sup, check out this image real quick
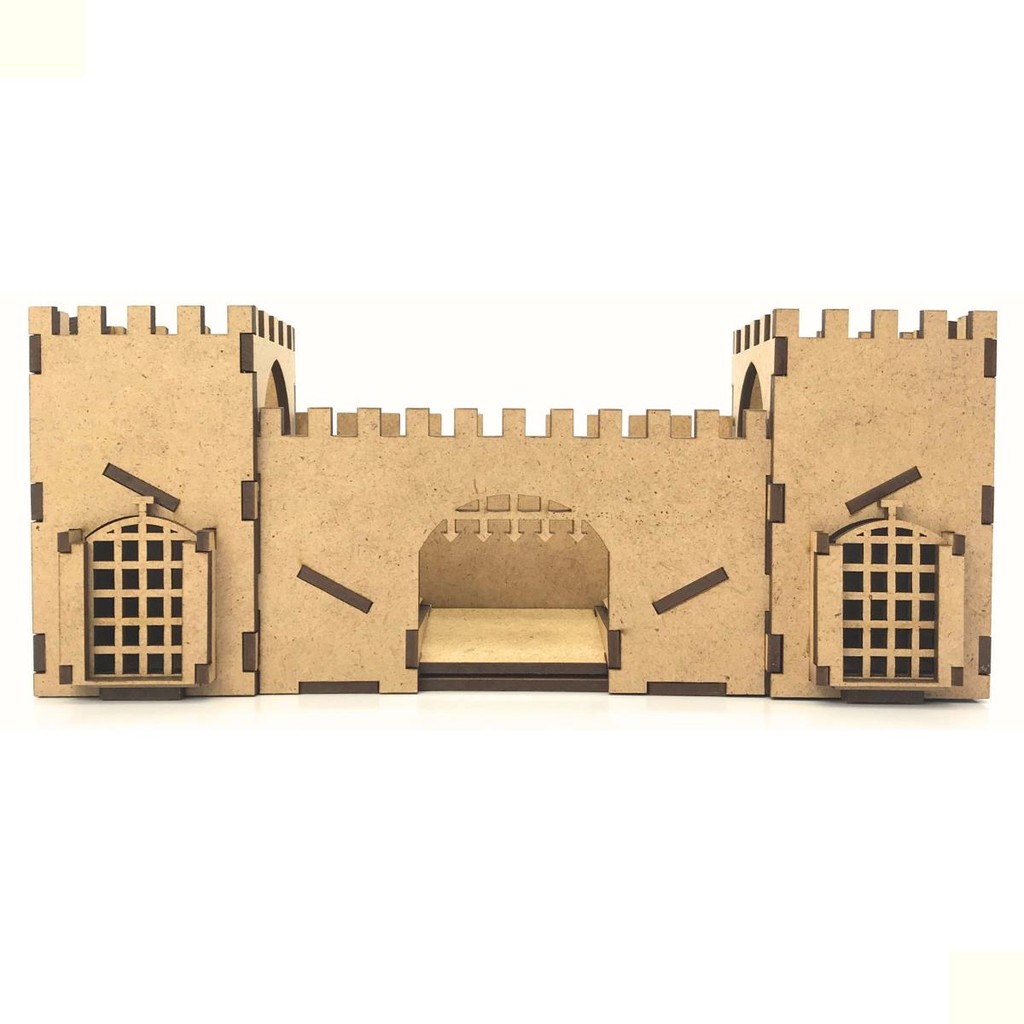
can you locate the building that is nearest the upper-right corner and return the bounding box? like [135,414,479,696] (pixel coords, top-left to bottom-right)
[733,309,997,703]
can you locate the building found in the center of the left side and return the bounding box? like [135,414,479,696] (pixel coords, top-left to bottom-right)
[29,306,295,700]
